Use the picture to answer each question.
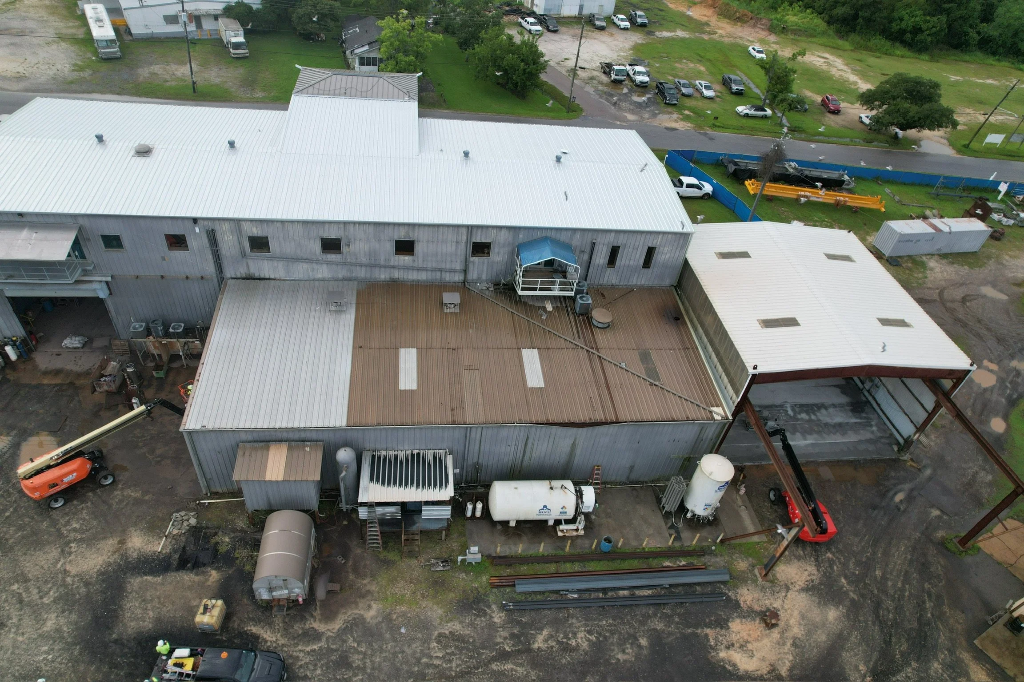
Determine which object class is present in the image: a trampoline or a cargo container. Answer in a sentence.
The image shows a cargo container.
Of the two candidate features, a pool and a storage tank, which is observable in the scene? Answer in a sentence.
The image shows a storage tank.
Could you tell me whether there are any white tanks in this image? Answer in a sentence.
Yes, I can see a white tank in this picture.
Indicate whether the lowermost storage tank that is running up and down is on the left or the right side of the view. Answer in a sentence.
It is on the left.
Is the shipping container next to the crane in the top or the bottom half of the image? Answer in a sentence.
The shipping container next to the crane sits in the top half of the picture.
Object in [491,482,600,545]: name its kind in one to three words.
storage tank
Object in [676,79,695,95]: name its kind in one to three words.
car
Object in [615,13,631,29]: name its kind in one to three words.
vehicle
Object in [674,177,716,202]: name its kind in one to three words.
truck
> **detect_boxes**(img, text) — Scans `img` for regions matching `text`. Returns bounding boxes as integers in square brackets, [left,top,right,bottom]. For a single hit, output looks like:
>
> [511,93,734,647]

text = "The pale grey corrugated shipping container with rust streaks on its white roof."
[871,219,988,258]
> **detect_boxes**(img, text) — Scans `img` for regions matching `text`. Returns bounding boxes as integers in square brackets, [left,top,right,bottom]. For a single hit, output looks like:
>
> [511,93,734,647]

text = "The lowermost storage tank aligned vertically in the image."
[252,509,319,623]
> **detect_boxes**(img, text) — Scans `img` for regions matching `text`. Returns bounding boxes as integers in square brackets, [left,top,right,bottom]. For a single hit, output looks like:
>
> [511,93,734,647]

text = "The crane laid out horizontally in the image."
[748,176,891,221]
